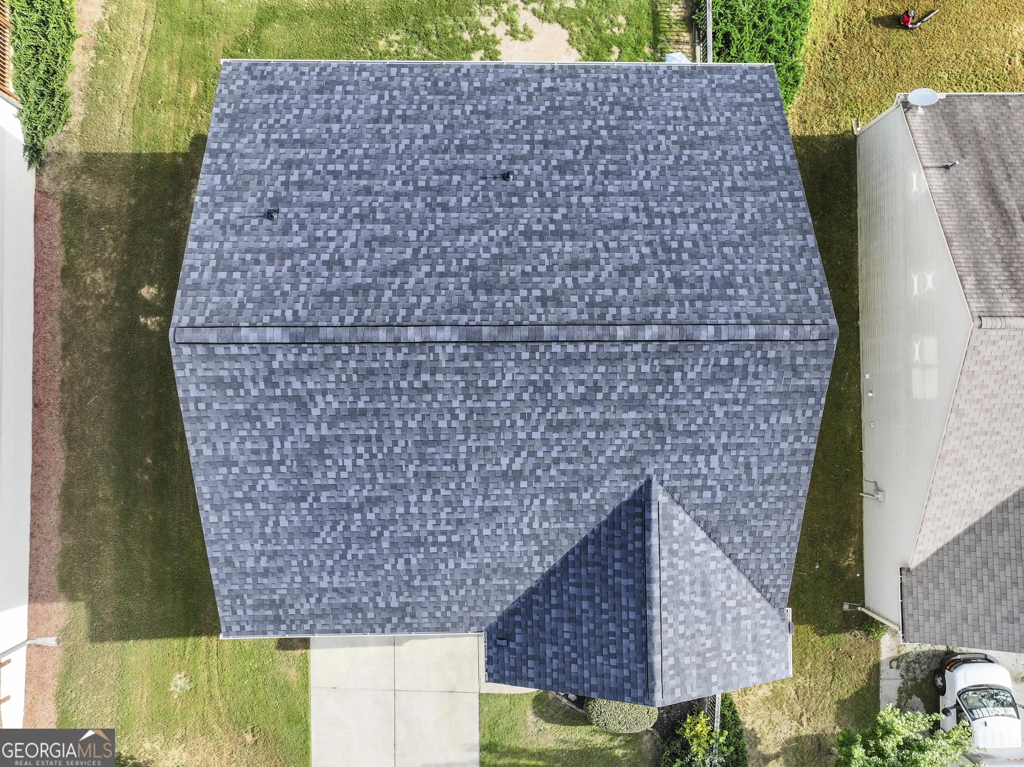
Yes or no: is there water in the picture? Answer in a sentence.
No, there's no water in this view.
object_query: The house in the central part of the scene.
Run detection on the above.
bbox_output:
[169,56,838,709]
